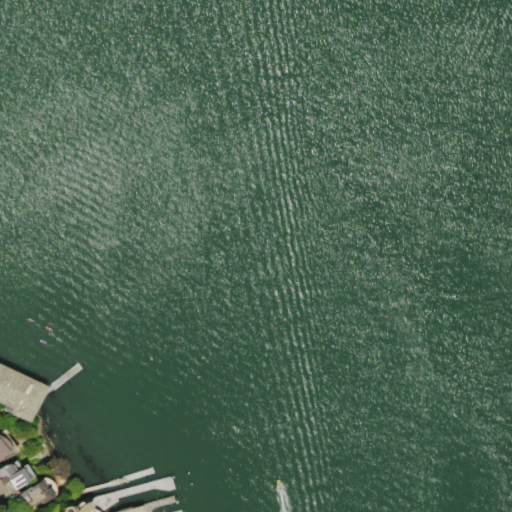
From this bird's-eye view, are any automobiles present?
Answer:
No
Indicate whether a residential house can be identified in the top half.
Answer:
No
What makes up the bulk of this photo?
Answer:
water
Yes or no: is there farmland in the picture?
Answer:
No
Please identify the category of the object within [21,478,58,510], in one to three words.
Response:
house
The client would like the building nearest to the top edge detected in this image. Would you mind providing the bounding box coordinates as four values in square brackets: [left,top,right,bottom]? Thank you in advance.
[0,362,50,422]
